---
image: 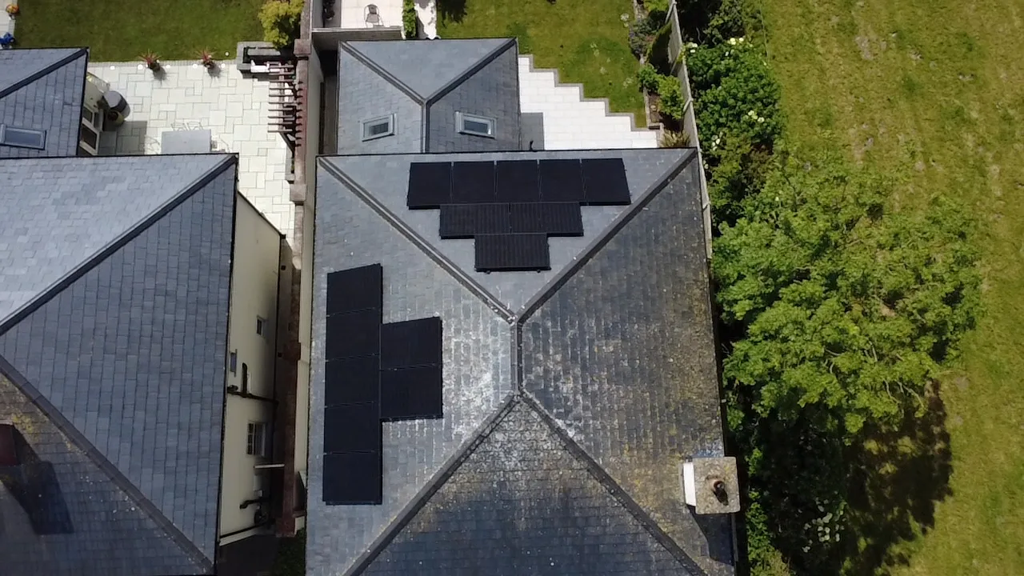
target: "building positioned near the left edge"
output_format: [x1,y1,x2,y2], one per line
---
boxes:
[0,43,284,576]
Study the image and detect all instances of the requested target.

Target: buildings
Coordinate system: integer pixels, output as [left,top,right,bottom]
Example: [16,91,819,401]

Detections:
[301,34,745,576]
[0,43,284,576]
